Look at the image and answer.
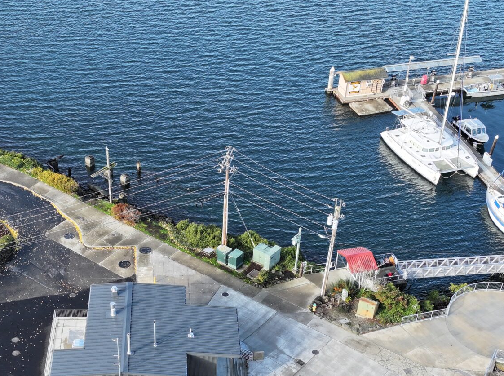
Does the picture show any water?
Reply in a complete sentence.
Yes, some water is visible.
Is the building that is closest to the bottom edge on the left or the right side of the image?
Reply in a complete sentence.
The building that is closest to the bottom edge sits on the left side.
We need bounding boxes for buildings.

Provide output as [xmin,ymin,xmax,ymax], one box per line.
[336,61,387,98]
[51,281,241,376]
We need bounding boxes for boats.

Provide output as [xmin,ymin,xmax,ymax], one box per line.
[376,0,475,186]
[462,64,504,100]
[485,167,504,230]
[447,118,488,147]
